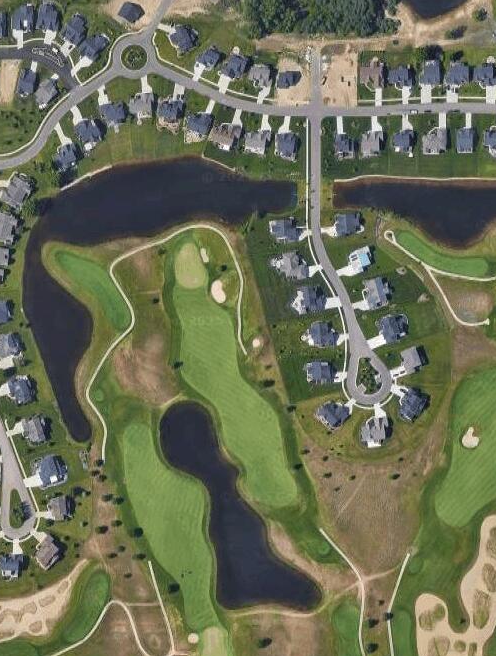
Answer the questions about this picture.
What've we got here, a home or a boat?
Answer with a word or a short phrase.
home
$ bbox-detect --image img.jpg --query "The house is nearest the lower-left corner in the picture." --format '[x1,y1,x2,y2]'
[0,553,23,580]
